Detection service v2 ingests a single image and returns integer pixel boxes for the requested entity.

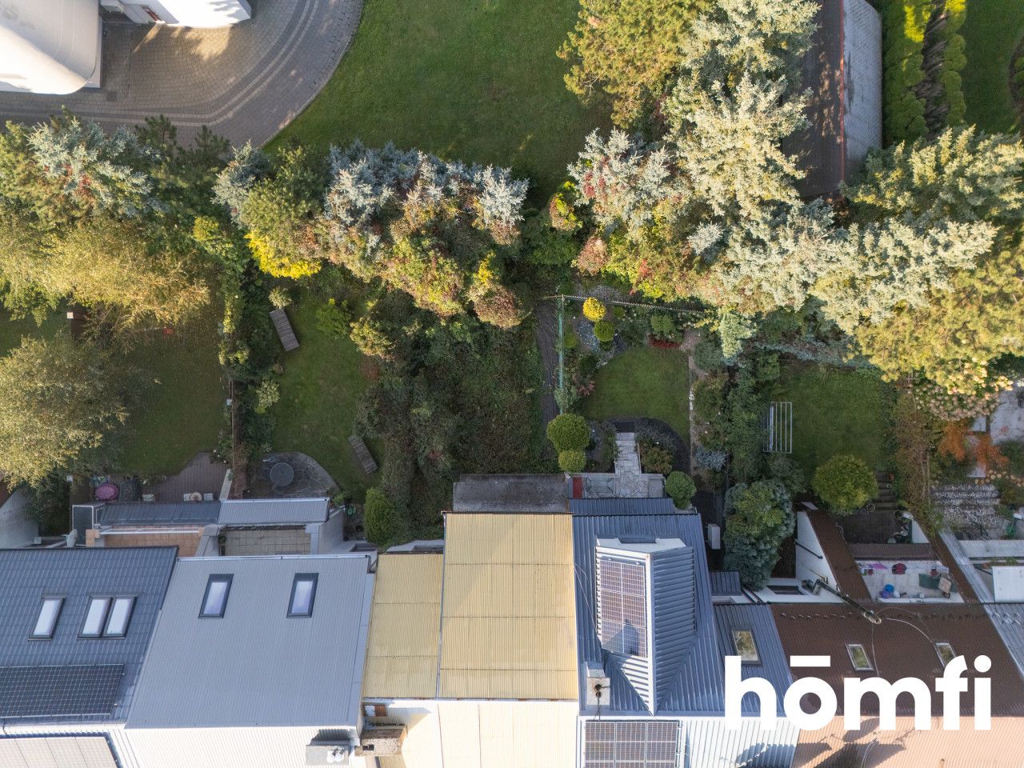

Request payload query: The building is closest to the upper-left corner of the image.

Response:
[0,0,102,94]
